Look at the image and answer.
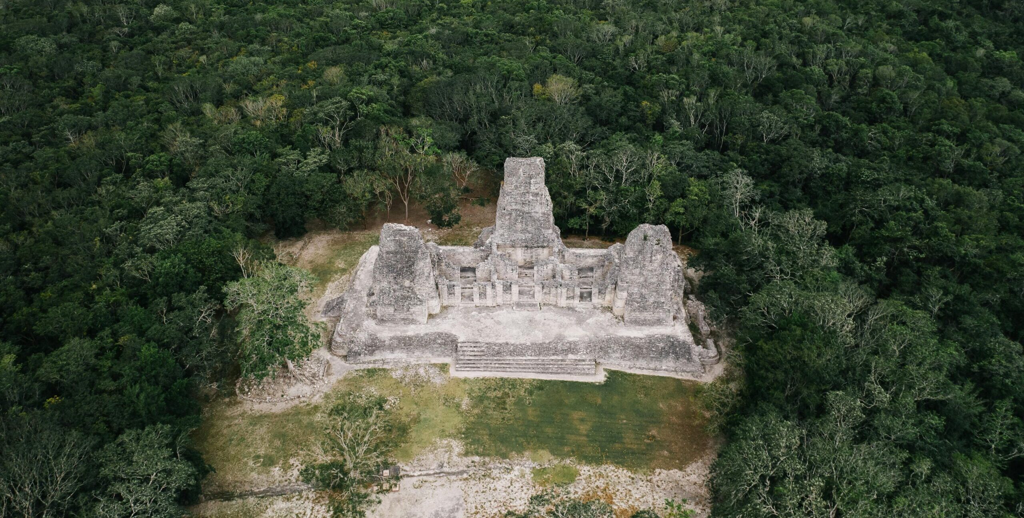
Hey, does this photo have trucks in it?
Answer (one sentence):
No, I find no truck anywhere in the image.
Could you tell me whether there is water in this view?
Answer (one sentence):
No, there is no water in the image.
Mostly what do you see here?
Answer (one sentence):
The scene is dominated by trees.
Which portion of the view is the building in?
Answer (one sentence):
The building is in the center part of the image.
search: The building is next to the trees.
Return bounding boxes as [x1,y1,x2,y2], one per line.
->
[322,159,705,379]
